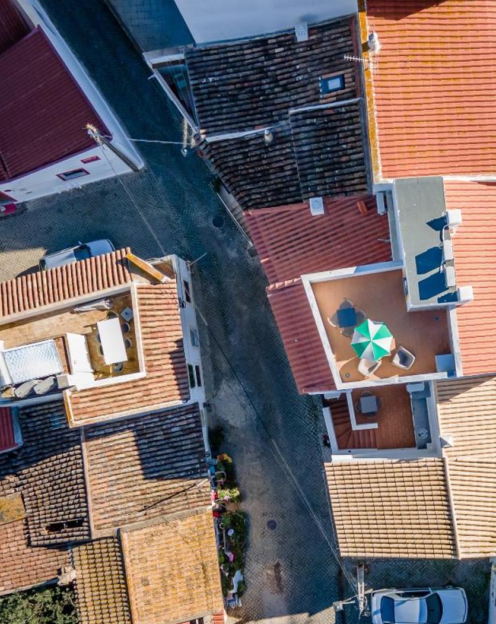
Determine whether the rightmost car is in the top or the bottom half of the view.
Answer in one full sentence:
You can find the rightmost car in the bottom half.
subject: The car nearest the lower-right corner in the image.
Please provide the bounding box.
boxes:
[369,581,469,624]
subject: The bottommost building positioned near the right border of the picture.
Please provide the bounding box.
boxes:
[322,375,496,559]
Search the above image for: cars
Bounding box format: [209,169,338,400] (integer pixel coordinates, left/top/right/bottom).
[369,581,469,624]
[34,234,124,274]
